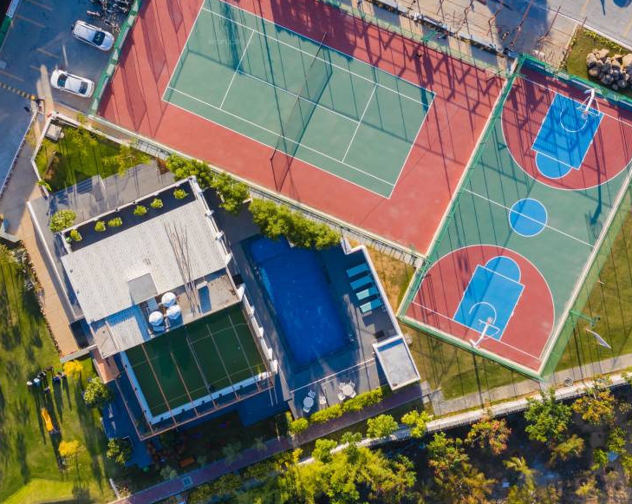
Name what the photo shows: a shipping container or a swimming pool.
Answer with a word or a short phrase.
swimming pool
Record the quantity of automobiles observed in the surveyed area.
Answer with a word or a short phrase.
2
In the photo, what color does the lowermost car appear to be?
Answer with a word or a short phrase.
white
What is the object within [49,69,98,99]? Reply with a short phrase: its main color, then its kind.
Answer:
white car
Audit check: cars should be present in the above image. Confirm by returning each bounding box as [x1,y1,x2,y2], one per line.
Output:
[69,19,118,53]
[49,69,98,99]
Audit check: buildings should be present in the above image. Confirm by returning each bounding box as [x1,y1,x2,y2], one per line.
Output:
[60,176,279,436]
[370,331,421,390]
